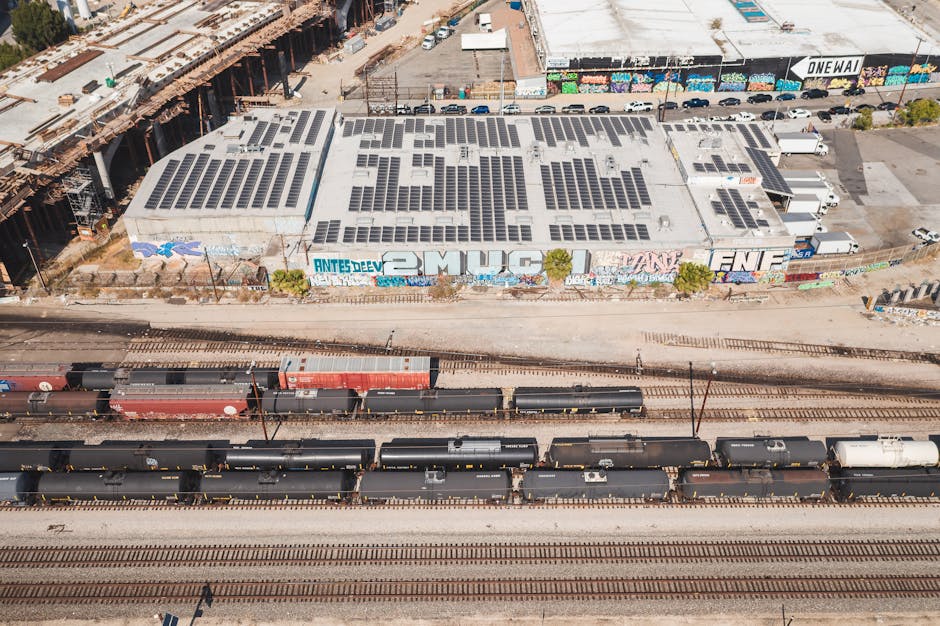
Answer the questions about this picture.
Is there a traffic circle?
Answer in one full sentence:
No, the frame has no traffic circle in it.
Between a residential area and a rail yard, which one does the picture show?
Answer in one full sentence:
The picture captures a rail yard.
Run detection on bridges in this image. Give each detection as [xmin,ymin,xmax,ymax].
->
[0,0,350,279]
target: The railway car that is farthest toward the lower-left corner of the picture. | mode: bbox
[0,472,32,508]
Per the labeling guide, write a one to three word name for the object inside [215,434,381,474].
rail car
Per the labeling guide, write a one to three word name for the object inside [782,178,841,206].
truck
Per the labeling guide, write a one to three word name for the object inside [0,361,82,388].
rail car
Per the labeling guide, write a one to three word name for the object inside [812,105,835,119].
car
